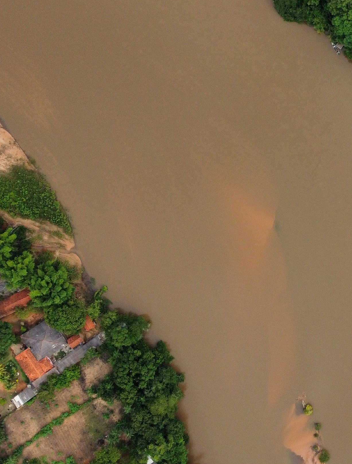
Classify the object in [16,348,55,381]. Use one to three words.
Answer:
house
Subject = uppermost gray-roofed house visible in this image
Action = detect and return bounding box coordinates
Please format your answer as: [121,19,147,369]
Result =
[21,321,67,360]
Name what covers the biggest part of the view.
water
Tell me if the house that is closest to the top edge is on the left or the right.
left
